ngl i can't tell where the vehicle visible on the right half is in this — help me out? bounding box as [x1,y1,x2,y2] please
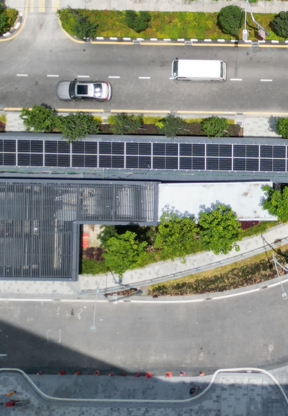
[169,55,229,81]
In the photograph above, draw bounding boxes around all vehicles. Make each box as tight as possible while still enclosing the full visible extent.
[54,77,112,102]
[169,55,229,81]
